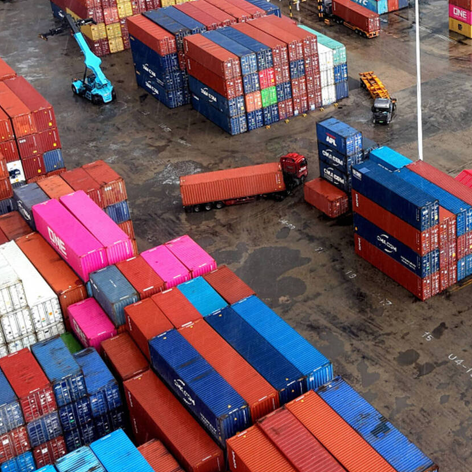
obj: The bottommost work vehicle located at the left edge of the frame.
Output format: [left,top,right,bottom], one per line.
[23,15,115,101]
